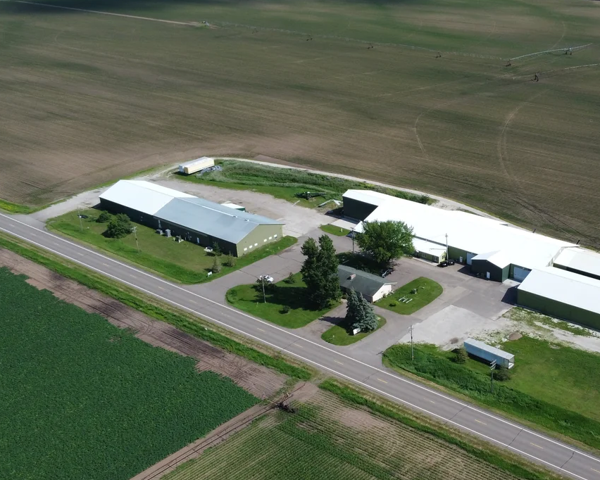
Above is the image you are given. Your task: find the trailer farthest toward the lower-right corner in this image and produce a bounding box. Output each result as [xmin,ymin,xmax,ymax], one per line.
[460,332,515,366]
